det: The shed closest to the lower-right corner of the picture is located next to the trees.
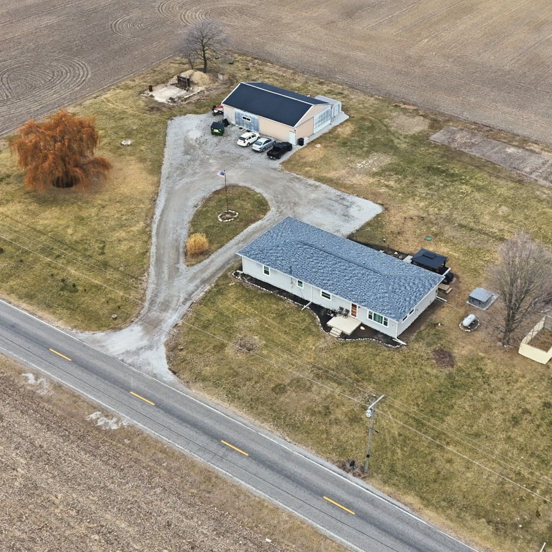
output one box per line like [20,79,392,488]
[466,288,497,311]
